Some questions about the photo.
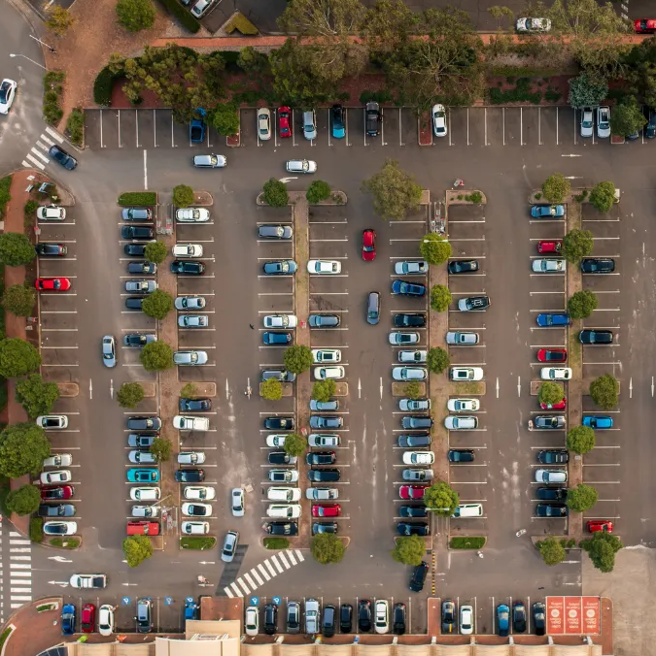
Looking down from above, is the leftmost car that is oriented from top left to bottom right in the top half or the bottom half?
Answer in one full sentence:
The top half of the photo is where the leftmost car that is oriented from top left to bottom right is.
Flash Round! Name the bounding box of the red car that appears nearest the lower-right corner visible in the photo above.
[585,519,613,533]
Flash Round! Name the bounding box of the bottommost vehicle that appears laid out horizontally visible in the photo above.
[70,573,108,590]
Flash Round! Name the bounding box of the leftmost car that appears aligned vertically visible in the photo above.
[0,77,17,115]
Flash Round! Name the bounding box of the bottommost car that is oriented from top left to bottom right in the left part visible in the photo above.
[46,141,79,171]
